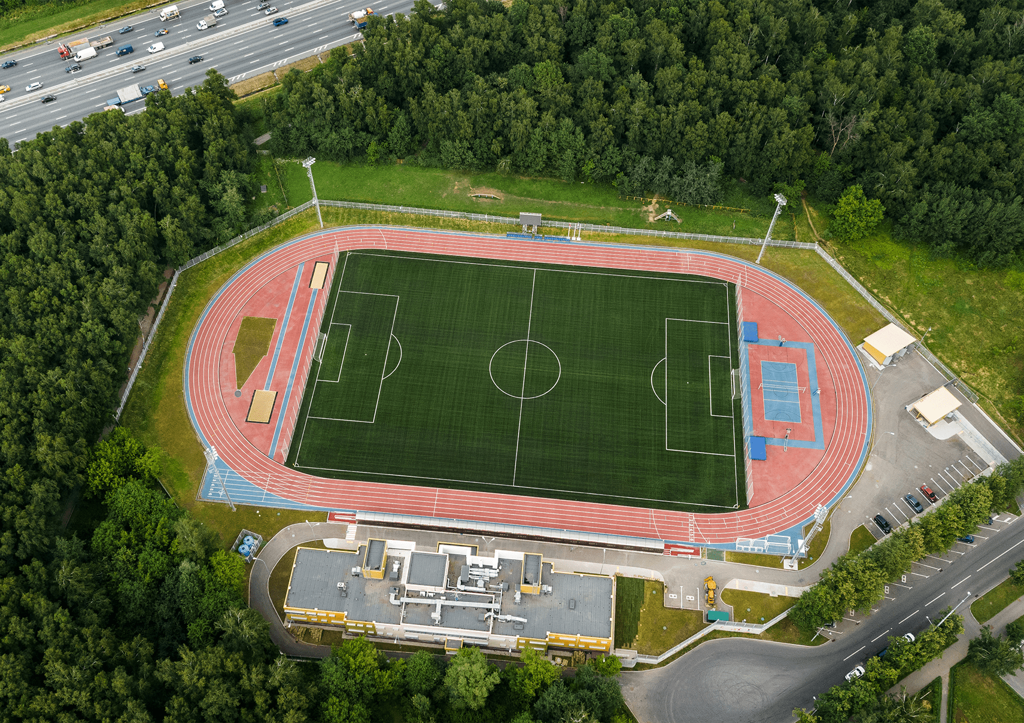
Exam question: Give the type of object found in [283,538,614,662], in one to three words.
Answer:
building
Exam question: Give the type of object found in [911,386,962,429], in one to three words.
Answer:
shed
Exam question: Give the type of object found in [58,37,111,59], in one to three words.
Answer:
truck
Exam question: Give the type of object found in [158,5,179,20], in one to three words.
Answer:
vehicle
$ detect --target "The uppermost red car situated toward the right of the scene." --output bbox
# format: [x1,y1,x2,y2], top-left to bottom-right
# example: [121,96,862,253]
[920,484,938,501]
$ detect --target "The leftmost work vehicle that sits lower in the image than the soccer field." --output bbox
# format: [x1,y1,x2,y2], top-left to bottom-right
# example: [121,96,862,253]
[705,576,719,610]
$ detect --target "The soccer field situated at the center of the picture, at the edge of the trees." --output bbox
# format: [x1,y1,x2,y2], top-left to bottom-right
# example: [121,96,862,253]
[284,249,748,513]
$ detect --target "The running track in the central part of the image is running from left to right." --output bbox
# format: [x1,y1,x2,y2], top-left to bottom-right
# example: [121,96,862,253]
[181,224,874,558]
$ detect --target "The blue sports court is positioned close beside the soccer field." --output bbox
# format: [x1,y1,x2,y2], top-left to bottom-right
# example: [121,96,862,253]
[739,336,825,450]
